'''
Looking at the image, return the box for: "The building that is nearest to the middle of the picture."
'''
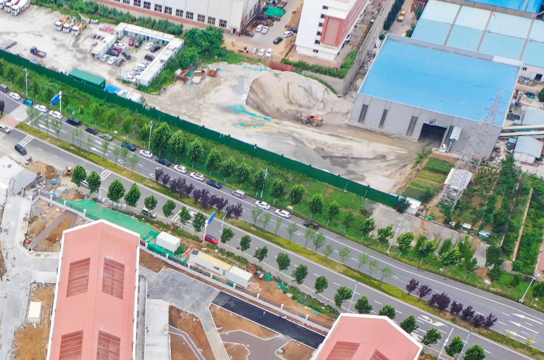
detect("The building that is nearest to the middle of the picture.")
[190,250,233,280]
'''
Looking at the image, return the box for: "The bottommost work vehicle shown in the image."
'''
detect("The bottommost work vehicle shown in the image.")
[243,262,266,278]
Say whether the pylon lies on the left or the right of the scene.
right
